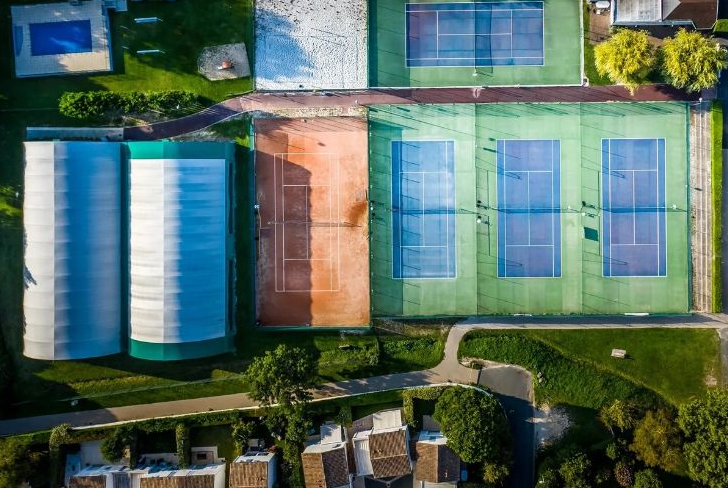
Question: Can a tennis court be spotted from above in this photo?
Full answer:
Yes, there is a tennis court in the image.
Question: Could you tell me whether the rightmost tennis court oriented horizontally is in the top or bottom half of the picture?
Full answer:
Seen from above, the rightmost tennis court oriented horizontally lies in the top half of the view.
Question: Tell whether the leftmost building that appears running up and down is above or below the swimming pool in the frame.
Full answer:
You can see the leftmost building that appears running up and down below the swimming pool in the frame.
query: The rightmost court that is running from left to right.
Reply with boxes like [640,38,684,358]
[369,0,582,87]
